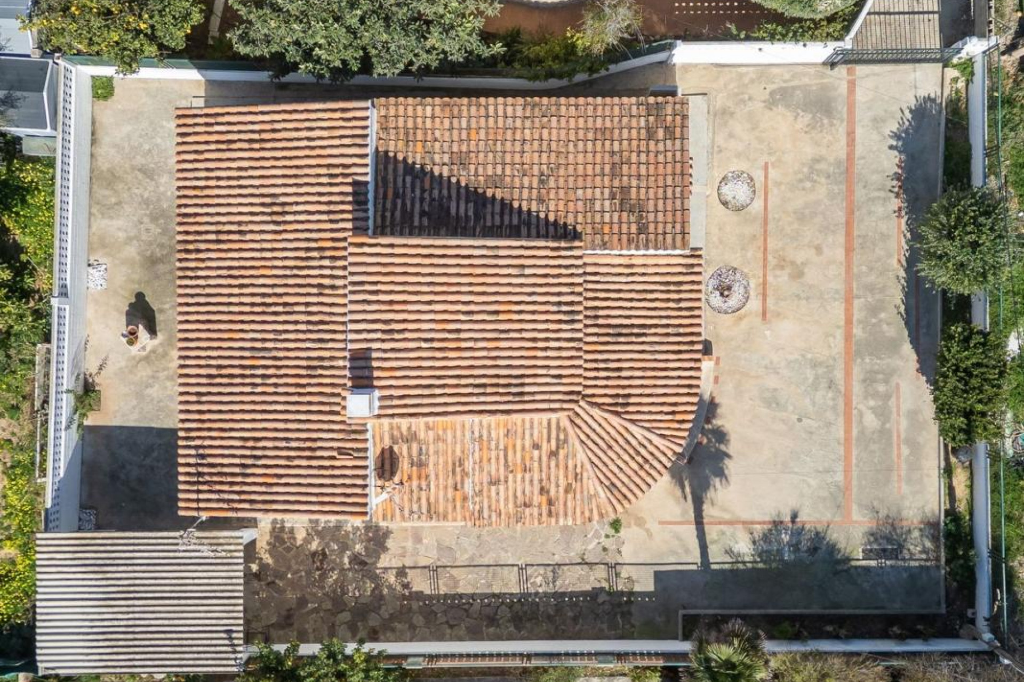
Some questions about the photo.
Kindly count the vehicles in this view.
0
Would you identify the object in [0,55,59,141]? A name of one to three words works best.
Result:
shed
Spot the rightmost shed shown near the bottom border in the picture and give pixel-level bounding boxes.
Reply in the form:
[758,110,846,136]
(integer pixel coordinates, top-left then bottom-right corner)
[35,531,245,674]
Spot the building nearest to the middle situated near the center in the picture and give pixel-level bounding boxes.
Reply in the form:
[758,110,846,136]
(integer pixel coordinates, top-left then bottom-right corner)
[172,87,706,528]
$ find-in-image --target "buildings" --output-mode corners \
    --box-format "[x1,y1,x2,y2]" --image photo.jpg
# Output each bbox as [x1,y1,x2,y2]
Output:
[35,531,245,674]
[0,55,59,141]
[172,87,706,528]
